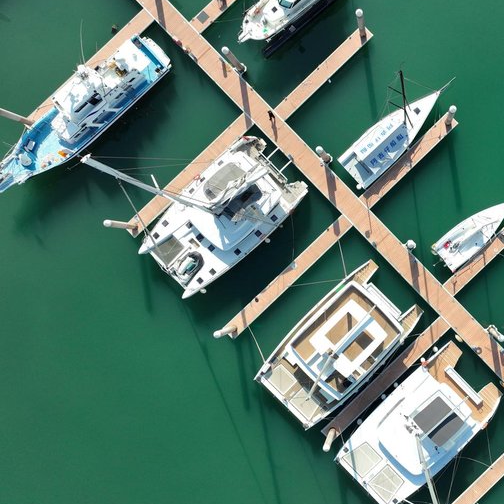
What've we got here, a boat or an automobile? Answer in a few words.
boat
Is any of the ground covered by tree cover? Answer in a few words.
No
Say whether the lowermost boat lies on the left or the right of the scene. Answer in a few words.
right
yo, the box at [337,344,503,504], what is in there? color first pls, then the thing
white boat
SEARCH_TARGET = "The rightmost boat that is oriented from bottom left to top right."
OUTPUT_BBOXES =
[431,204,504,272]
